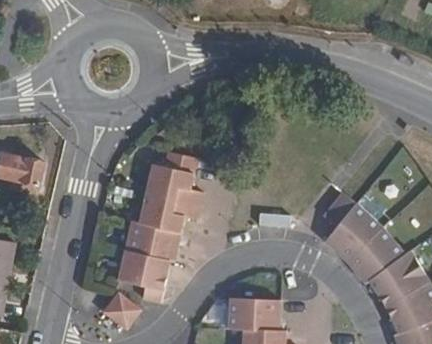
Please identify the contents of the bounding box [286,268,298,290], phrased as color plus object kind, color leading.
white vehicle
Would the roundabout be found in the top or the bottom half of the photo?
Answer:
top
